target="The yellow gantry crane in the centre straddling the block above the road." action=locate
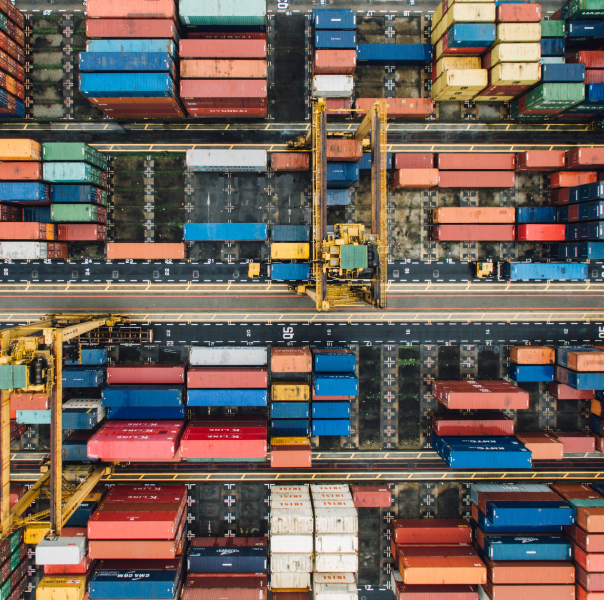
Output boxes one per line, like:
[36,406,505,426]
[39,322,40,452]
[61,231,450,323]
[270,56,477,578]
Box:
[287,94,388,309]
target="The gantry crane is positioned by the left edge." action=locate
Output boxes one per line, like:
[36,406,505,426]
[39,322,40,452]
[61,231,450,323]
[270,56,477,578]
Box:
[0,313,124,545]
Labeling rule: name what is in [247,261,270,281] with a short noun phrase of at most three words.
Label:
vehicle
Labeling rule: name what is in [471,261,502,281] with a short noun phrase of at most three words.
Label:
vehicle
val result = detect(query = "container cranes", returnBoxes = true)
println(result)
[0,313,124,545]
[287,94,388,309]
